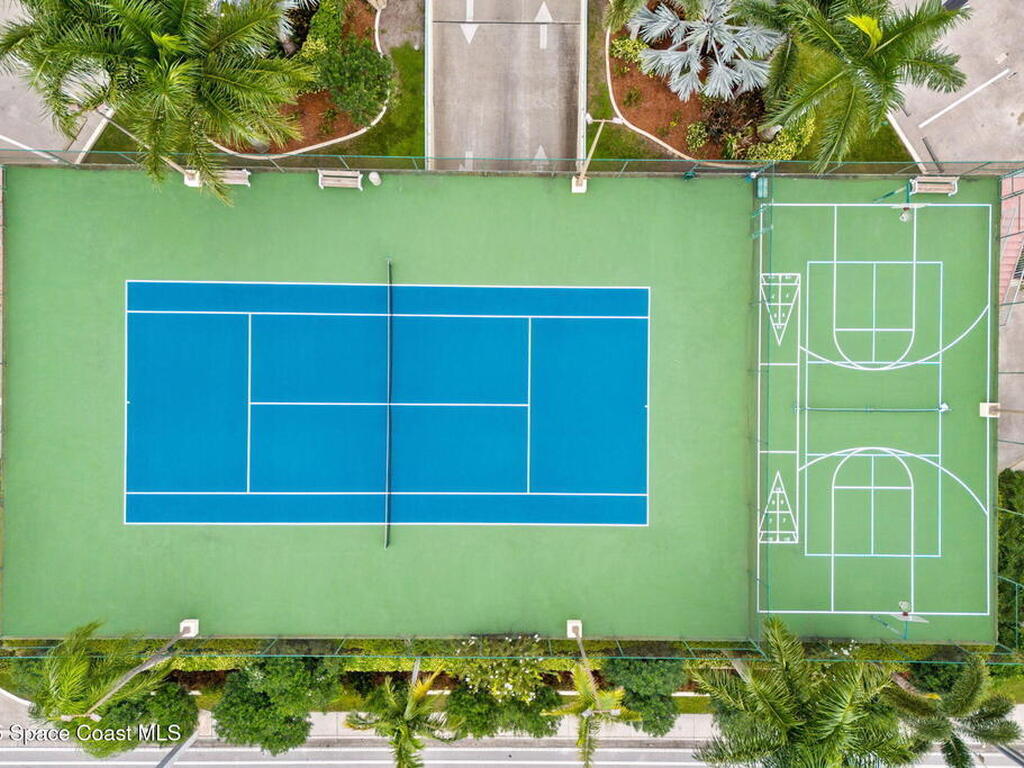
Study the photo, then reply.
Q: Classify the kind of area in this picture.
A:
sports ground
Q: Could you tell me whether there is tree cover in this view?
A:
Yes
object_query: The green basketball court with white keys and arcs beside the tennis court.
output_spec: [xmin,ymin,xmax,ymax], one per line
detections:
[747,179,1000,637]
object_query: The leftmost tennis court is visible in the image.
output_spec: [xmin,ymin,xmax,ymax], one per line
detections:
[3,166,751,640]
